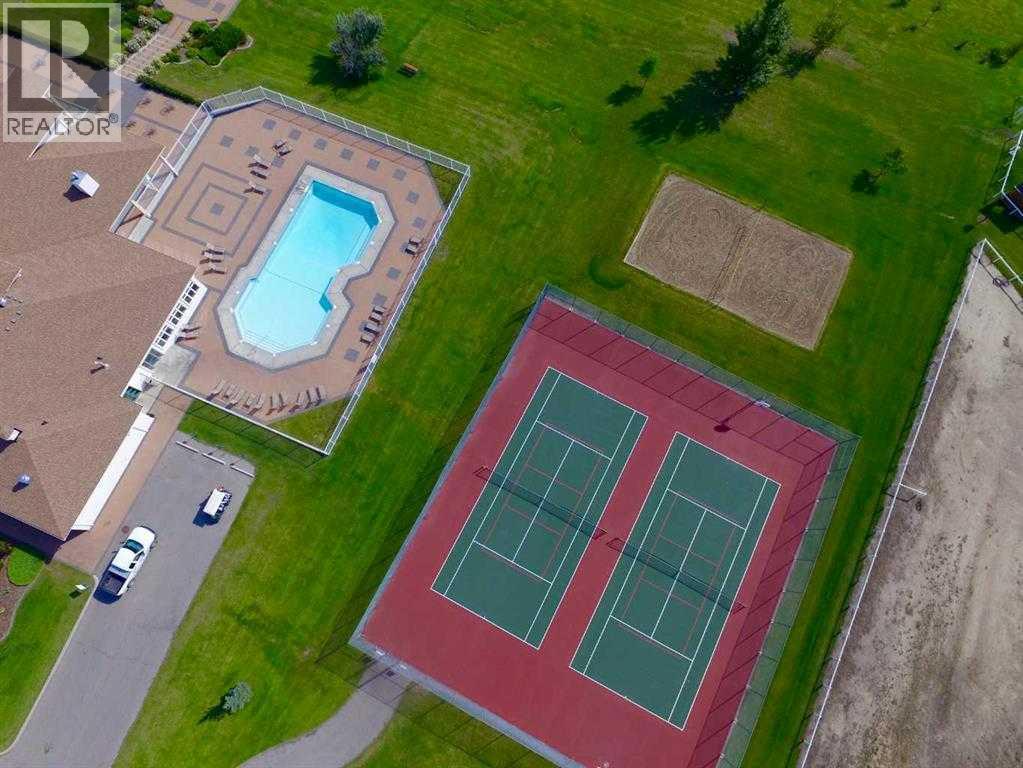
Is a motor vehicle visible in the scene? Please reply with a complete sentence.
Yes, there is a motor vehicle in the image.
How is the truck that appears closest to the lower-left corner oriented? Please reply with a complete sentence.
I'd say the truck that appears closest to the lower-left corner is aligned diagonally in the picture.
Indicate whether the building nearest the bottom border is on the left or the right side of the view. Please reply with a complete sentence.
You can find the building nearest the bottom border on the left side of the picture.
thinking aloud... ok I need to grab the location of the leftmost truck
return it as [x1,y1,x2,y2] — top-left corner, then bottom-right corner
[92,525,159,599]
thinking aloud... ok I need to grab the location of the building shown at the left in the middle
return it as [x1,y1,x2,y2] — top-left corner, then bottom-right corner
[0,84,206,541]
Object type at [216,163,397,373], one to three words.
swimming pool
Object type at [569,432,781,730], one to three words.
tennis court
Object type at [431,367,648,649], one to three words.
tennis court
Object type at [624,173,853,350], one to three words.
sports court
